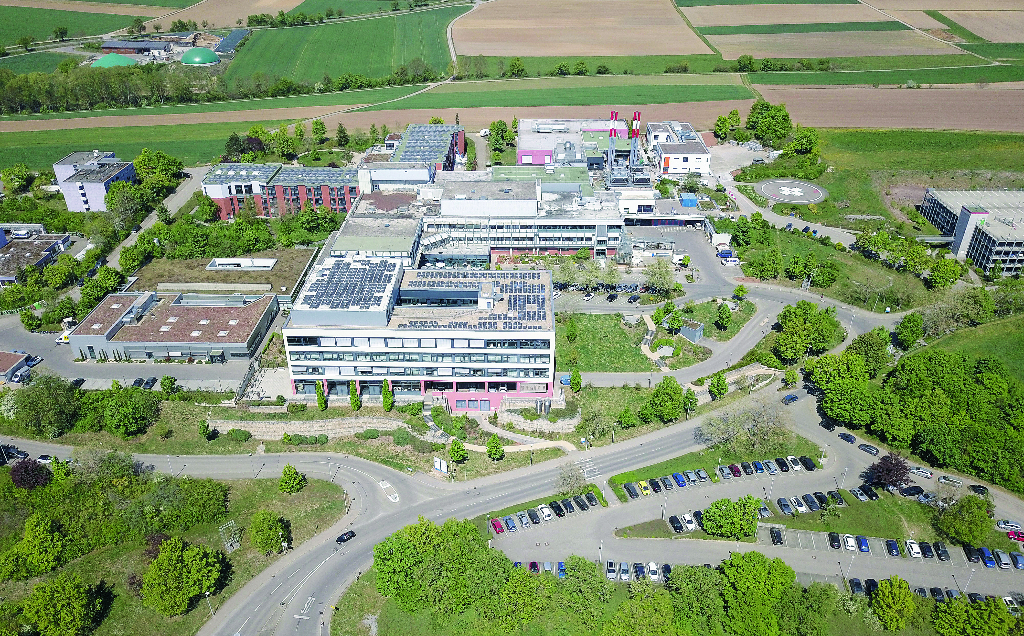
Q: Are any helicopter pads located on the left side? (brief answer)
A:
No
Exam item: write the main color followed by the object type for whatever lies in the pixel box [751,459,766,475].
blue car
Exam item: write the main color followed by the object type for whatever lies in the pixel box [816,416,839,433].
black car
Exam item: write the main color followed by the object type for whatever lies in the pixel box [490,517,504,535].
red car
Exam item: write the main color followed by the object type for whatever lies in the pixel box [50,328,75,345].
white vehicle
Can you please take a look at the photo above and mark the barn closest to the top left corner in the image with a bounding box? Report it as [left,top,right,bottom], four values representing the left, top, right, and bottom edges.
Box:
[100,37,187,58]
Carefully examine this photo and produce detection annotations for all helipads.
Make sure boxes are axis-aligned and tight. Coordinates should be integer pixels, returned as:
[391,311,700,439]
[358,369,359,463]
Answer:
[753,177,830,206]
